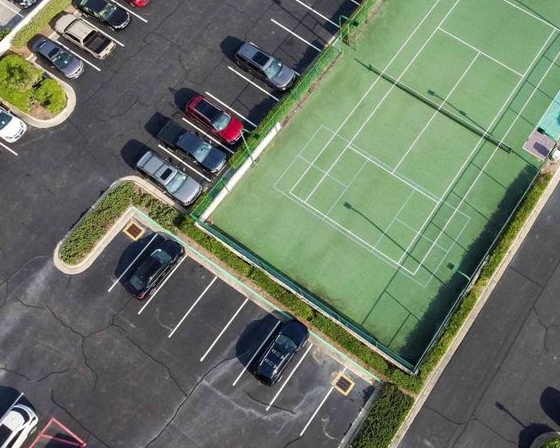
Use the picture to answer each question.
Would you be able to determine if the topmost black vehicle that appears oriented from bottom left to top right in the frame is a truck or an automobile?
automobile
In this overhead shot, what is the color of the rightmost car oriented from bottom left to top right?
black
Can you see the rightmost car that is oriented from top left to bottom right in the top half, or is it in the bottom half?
top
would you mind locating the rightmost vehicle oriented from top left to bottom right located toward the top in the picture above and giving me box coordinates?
[235,42,295,91]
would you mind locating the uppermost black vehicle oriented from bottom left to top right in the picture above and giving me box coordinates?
[126,237,186,300]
